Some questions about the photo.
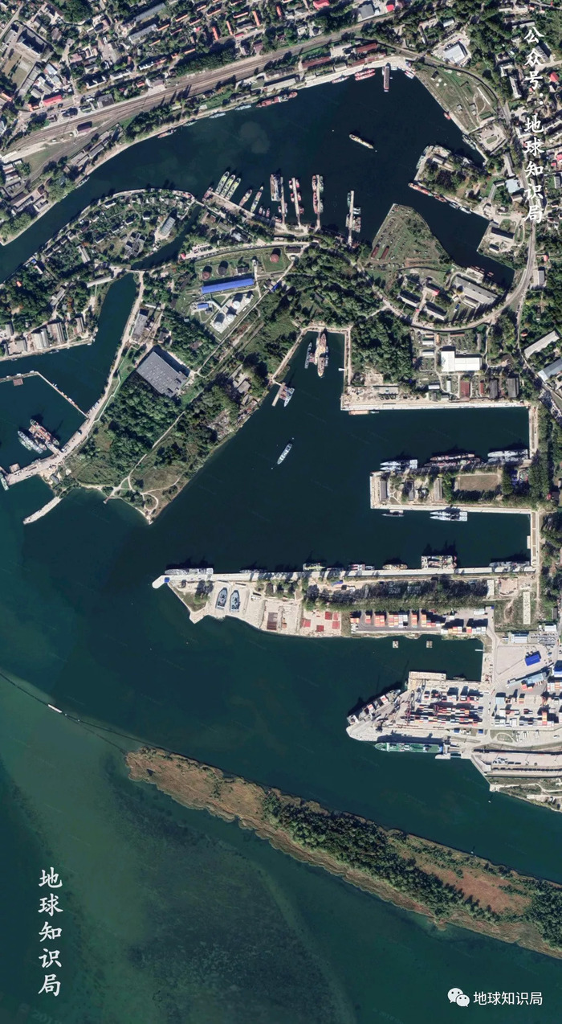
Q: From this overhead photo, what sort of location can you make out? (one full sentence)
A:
This image shows a port.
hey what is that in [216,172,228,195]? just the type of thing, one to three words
ship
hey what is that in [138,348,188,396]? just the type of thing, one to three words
building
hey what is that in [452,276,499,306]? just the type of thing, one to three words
building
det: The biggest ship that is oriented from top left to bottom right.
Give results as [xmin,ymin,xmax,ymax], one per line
[31,420,59,446]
